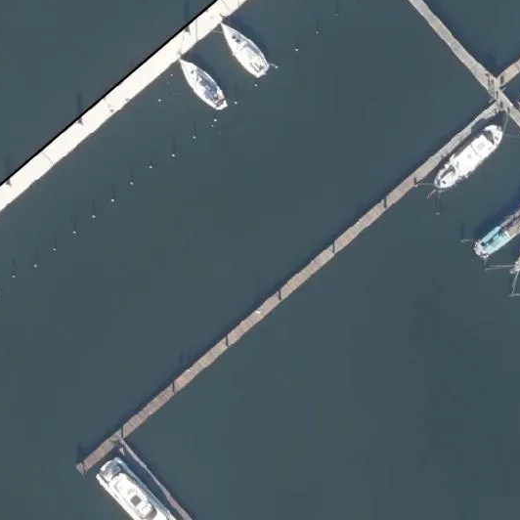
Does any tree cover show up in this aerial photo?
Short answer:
No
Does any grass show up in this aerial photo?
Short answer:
No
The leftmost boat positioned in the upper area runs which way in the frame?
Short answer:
diagonally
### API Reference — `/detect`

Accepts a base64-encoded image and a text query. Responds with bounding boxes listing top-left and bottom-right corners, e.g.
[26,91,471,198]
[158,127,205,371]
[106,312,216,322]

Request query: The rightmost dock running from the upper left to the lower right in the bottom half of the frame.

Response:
[121,441,195,520]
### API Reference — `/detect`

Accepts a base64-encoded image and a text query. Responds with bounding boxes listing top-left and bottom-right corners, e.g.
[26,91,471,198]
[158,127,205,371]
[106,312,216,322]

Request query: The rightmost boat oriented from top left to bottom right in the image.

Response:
[221,23,270,77]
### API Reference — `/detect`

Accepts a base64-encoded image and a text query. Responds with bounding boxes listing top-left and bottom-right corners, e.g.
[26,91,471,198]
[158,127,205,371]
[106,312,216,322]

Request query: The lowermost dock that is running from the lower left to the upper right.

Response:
[81,127,468,470]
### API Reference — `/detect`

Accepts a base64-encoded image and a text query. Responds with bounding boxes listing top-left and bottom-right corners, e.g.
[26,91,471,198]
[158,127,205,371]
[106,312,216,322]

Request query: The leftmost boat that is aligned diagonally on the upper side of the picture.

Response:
[180,60,227,111]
